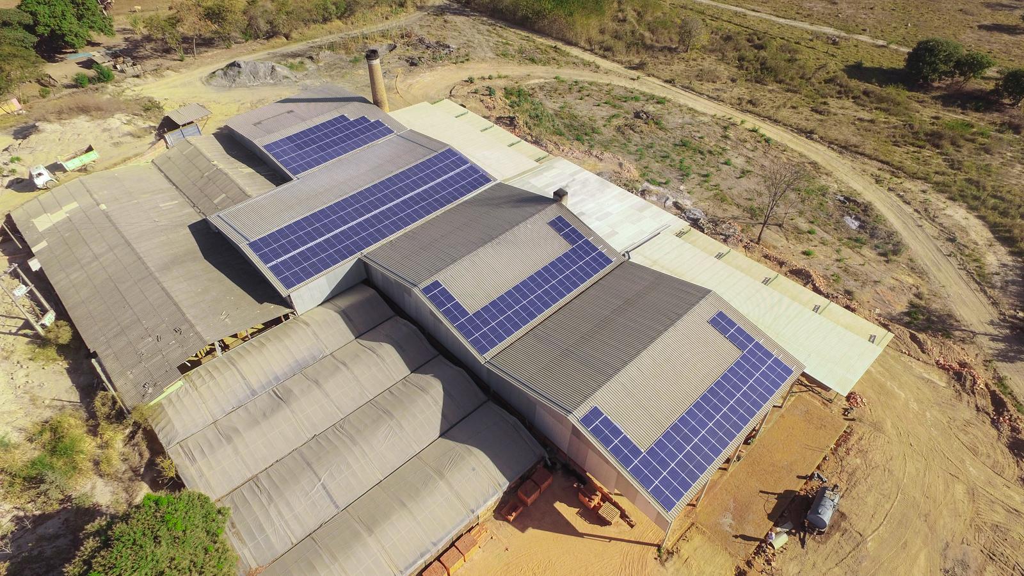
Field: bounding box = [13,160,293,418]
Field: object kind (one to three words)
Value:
shed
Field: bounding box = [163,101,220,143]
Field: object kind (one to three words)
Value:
shed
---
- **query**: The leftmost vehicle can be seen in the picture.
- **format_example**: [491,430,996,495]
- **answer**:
[32,150,98,190]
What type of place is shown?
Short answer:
industrial area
